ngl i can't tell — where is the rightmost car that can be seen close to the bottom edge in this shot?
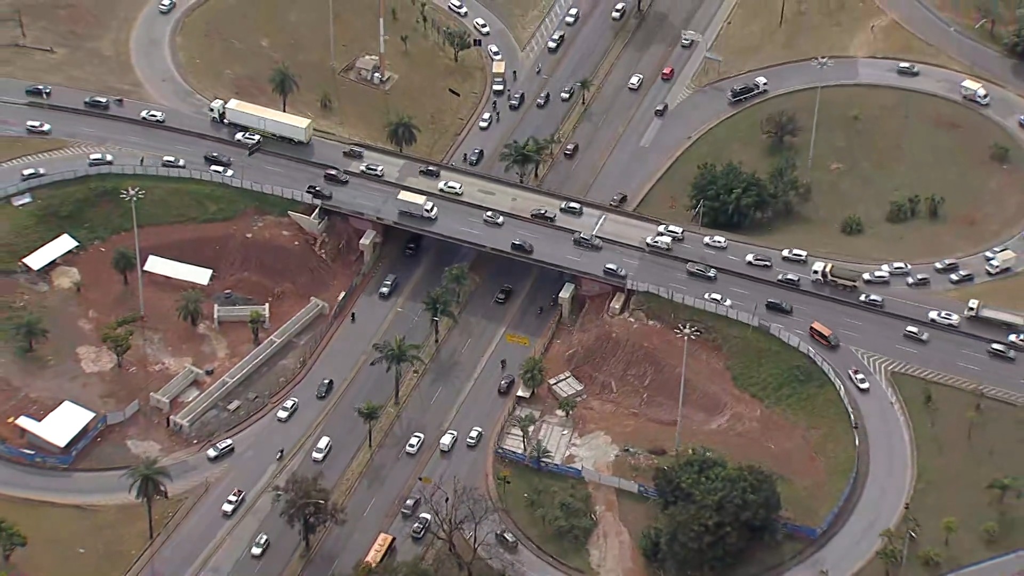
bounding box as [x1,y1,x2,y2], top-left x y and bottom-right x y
[494,529,519,548]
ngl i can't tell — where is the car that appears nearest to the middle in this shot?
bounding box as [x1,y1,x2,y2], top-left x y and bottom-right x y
[495,285,512,303]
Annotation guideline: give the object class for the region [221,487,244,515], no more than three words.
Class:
truck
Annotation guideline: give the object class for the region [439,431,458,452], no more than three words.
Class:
vehicle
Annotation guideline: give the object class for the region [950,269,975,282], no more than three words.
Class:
vehicle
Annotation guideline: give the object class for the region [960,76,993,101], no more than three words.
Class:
truck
